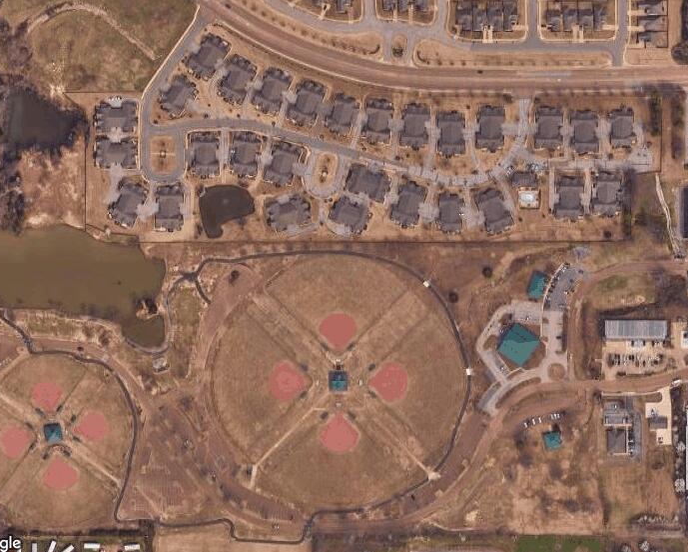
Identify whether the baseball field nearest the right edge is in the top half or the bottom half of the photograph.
bottom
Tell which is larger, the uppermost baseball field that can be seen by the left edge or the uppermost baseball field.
the uppermost baseball field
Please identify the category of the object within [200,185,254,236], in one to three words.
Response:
pond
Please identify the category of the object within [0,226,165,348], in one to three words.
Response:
pond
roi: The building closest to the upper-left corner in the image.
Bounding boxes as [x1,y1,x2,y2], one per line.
[95,100,139,132]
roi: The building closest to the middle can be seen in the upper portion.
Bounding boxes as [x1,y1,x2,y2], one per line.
[330,194,369,236]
